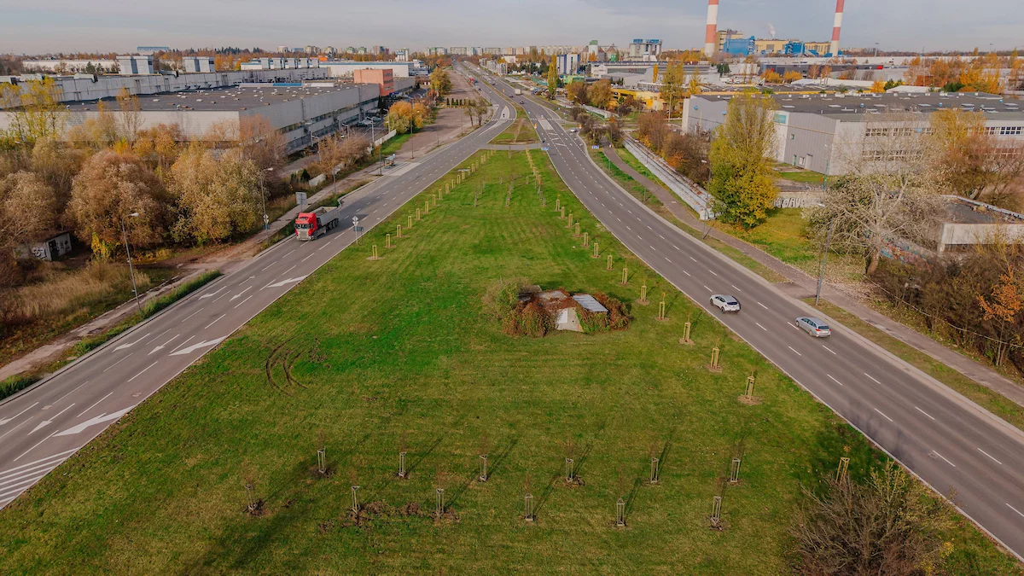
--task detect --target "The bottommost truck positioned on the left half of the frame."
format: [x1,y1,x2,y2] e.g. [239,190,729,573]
[294,206,337,238]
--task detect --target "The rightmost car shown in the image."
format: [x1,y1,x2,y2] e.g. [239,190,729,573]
[795,315,834,336]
